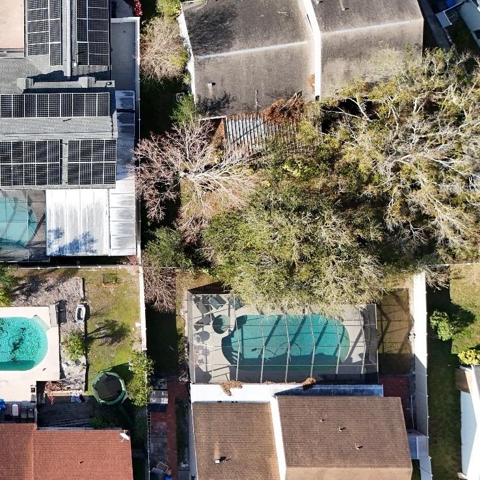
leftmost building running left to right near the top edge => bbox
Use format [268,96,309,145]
[176,0,425,119]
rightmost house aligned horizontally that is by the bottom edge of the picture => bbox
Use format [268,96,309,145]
[186,384,419,480]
